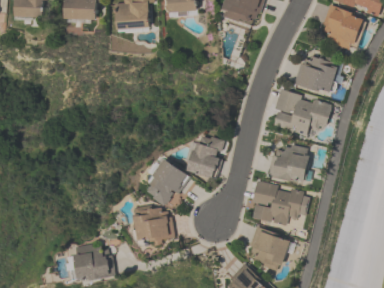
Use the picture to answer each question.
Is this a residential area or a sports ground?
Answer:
residential area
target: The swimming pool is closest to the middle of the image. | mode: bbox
[172,146,190,160]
